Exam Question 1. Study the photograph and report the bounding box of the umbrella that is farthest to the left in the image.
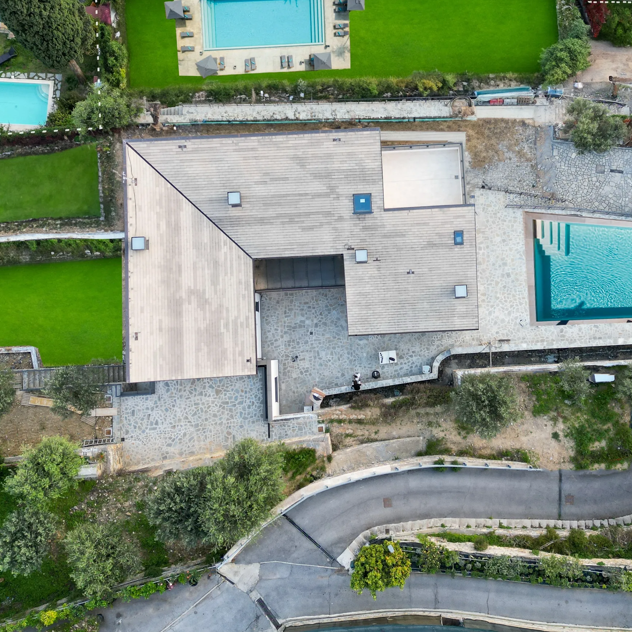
[165,1,186,22]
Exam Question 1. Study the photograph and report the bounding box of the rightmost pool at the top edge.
[200,0,325,51]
